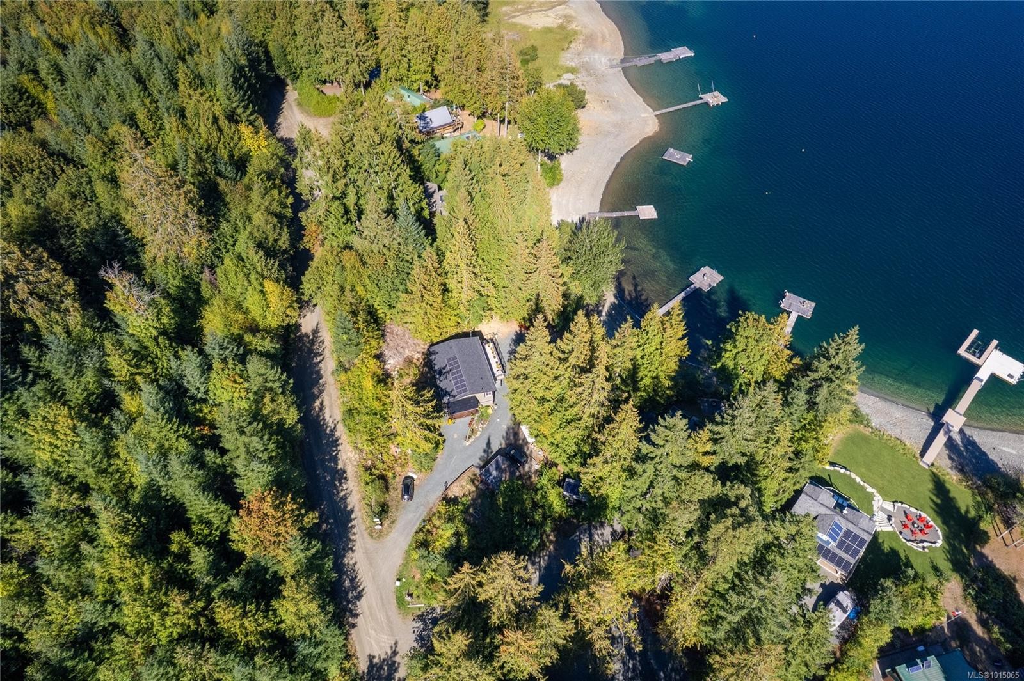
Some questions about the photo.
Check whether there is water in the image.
Yes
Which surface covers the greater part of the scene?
trees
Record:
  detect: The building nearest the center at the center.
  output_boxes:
[429,337,510,423]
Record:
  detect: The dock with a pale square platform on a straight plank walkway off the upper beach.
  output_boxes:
[588,204,658,221]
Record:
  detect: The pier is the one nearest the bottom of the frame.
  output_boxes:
[920,329,1024,469]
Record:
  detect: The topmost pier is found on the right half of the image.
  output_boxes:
[614,46,695,68]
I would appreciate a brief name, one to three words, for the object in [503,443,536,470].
truck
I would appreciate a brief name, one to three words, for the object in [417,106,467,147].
building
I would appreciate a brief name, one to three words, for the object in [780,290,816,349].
pier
